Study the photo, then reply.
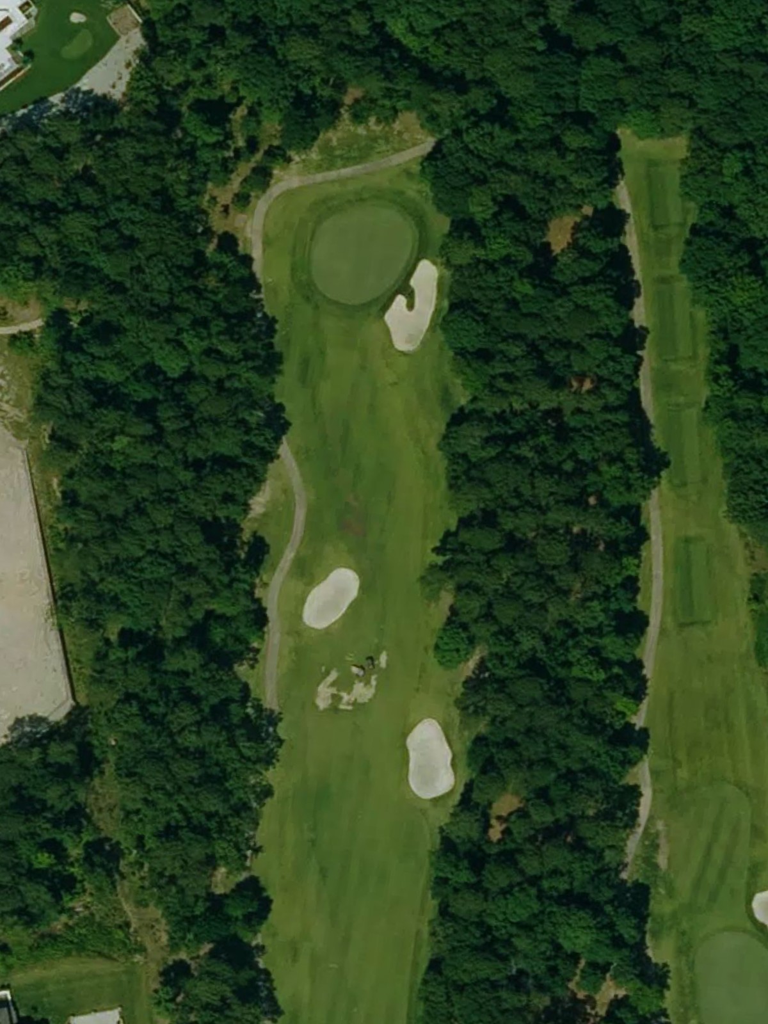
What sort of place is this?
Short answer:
golf course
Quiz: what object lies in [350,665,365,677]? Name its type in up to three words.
vehicle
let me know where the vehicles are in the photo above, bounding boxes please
[350,665,365,677]
[366,656,374,668]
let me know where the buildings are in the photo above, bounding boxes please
[0,0,37,90]
[69,1008,122,1024]
[0,988,17,1024]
